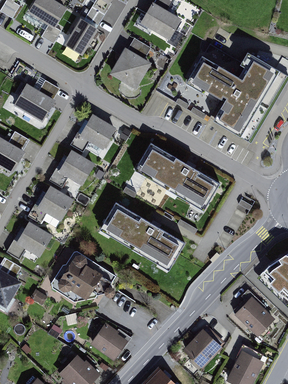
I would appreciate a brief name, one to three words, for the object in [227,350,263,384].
house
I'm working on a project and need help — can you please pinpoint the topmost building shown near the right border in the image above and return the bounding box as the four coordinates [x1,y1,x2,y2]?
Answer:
[189,52,276,136]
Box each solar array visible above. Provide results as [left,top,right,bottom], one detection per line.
[15,98,46,120]
[206,340,221,356]
[75,26,94,53]
[30,5,58,26]
[0,154,15,170]
[195,350,212,367]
